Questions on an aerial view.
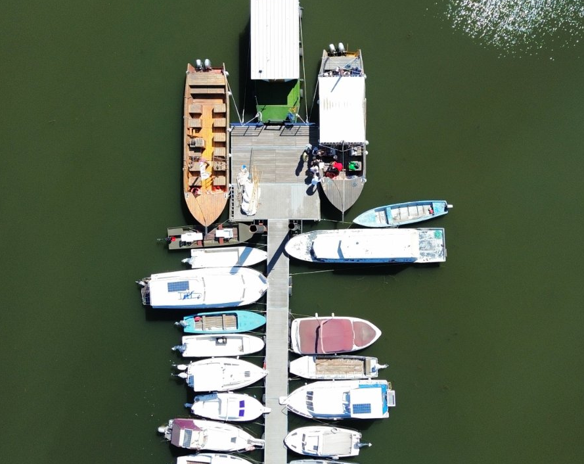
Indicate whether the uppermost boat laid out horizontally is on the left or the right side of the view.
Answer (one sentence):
The uppermost boat laid out horizontally sits on the right side.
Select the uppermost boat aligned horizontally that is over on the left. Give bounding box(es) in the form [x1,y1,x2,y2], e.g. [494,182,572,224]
[160,220,267,249]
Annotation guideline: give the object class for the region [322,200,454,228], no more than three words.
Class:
boat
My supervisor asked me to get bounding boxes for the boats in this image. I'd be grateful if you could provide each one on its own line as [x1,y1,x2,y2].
[160,220,267,249]
[181,247,268,269]
[178,452,262,464]
[290,313,383,354]
[279,378,395,427]
[289,354,390,380]
[284,417,371,459]
[129,268,269,309]
[183,392,271,425]
[173,310,267,336]
[285,228,447,274]
[154,419,265,455]
[322,200,454,228]
[171,334,266,357]
[177,356,269,393]
[183,60,241,235]
[310,45,368,221]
